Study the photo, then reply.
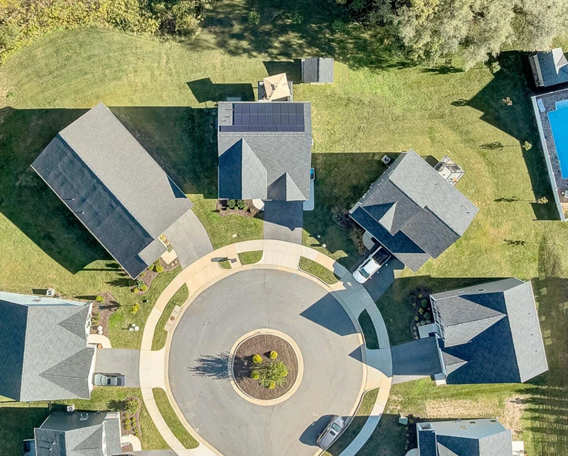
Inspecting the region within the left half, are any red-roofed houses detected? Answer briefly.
No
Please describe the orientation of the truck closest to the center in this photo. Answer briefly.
on a diagonal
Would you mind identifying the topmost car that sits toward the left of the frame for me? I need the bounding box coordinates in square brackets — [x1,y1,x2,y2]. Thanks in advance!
[95,372,126,387]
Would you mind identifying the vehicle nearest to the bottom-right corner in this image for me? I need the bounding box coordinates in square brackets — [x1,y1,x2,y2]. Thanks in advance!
[317,414,343,450]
